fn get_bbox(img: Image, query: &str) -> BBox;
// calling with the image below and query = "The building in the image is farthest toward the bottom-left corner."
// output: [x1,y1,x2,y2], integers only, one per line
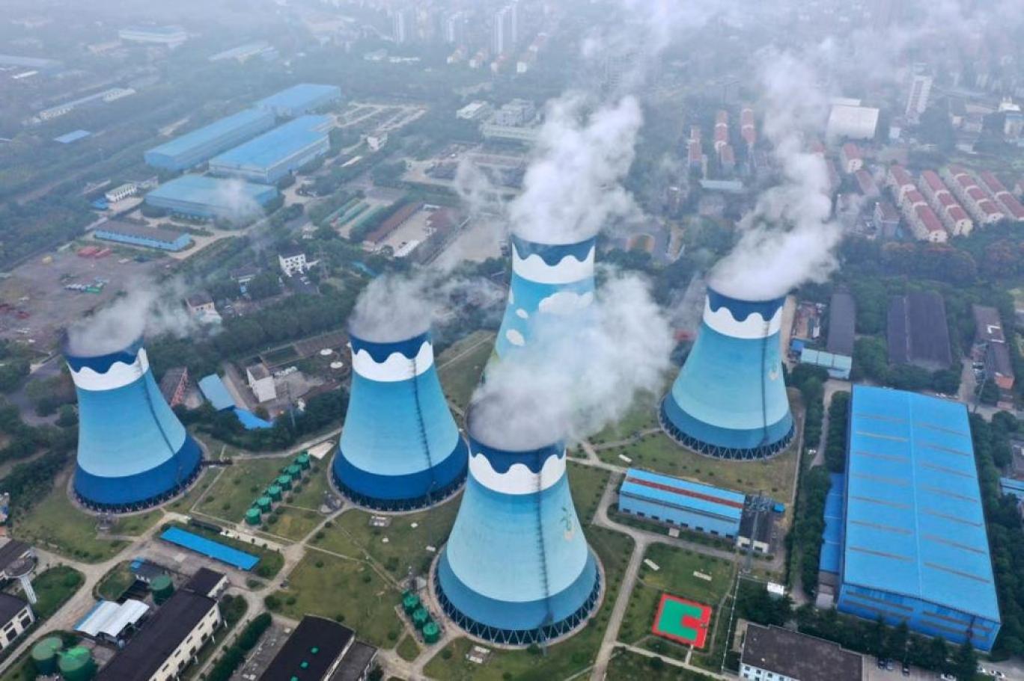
[0,599,30,647]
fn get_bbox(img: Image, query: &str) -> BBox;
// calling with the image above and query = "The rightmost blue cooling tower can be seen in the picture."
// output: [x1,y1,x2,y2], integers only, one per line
[656,265,799,463]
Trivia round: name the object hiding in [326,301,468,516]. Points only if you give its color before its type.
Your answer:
blue cooling tower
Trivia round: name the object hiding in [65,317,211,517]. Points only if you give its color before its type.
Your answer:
blue cooling tower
